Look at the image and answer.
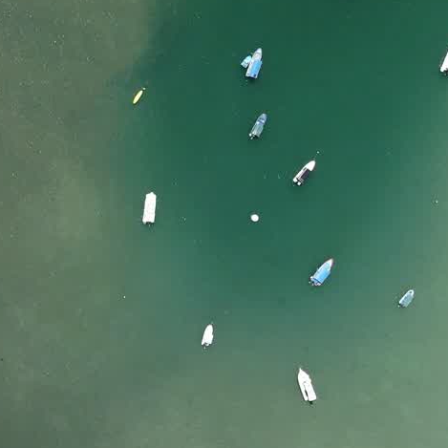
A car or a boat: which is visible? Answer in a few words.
boat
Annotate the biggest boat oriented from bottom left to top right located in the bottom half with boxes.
[308,259,333,288]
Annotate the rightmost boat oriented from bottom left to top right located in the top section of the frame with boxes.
[293,161,314,186]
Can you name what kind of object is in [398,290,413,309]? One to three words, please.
boat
